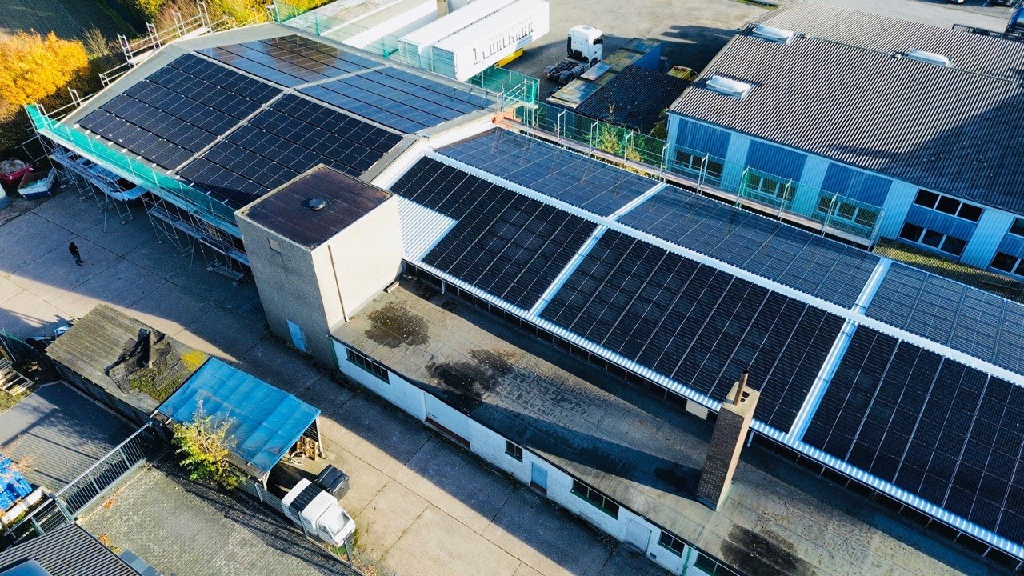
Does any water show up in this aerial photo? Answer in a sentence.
No, no water is visible.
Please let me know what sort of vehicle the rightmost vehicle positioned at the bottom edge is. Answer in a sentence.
Looking closely, the rightmost vehicle positioned at the bottom edge is a truck.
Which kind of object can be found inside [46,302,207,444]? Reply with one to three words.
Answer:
shed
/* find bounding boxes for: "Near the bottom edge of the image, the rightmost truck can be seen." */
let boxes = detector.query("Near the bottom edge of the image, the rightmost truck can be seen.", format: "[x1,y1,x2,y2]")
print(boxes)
[279,481,361,555]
